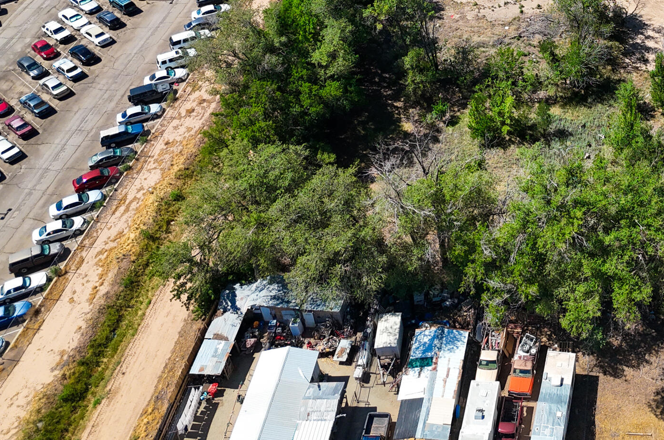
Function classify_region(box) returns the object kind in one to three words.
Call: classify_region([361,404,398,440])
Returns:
truck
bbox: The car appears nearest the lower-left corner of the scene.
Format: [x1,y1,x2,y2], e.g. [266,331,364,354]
[0,329,28,356]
